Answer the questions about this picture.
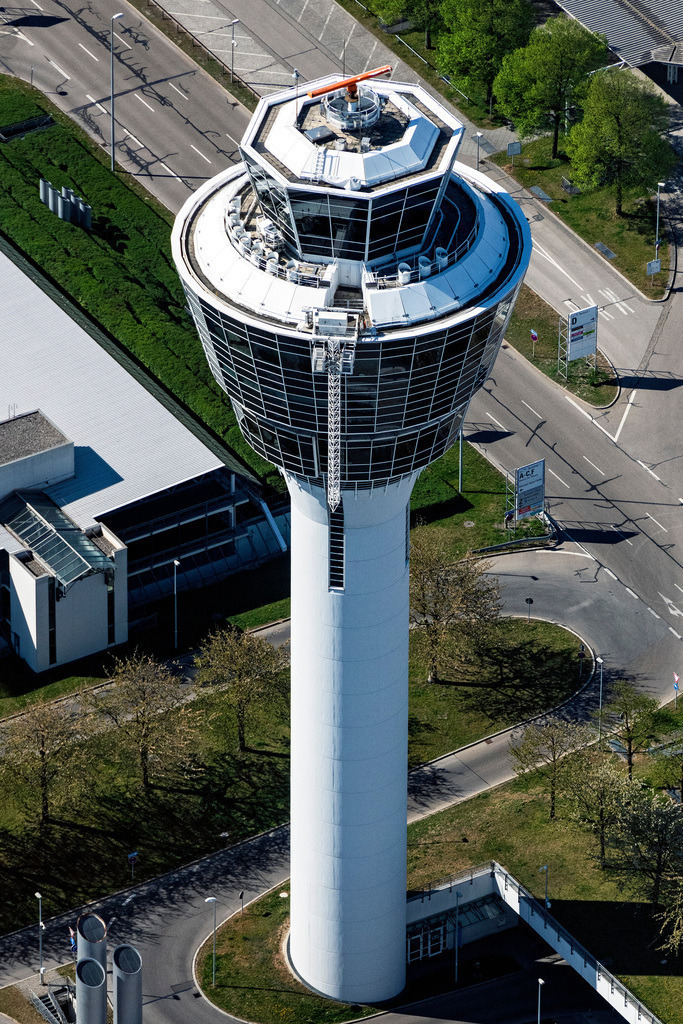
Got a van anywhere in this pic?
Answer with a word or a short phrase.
No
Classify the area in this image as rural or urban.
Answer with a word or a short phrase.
urban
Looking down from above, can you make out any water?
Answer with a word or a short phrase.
No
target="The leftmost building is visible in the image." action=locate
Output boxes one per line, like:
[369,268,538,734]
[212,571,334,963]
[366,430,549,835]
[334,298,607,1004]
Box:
[0,230,288,662]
